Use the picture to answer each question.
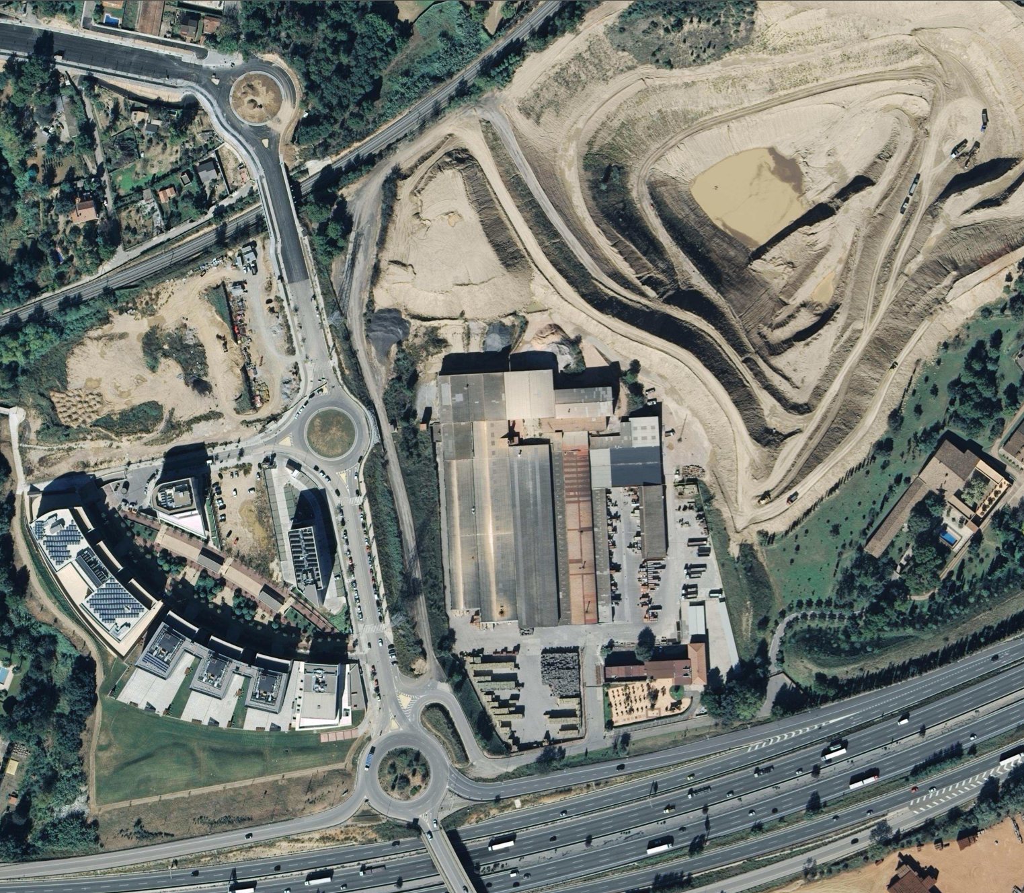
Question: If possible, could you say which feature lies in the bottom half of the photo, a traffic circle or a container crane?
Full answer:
It is a traffic circle that can be seen in the bottom half of the photo.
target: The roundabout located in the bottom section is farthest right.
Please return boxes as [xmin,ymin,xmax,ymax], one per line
[360,730,449,823]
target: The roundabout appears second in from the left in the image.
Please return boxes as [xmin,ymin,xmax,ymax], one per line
[291,393,369,472]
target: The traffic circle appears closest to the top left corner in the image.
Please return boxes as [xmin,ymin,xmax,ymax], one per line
[219,60,295,137]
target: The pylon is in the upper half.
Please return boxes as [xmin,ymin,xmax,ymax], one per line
[328,311,343,329]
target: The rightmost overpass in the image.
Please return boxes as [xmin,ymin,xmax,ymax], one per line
[417,822,477,893]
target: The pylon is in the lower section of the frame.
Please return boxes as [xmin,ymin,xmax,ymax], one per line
[392,611,407,629]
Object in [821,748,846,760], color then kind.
white vehicle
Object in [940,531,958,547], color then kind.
blue swimming pool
